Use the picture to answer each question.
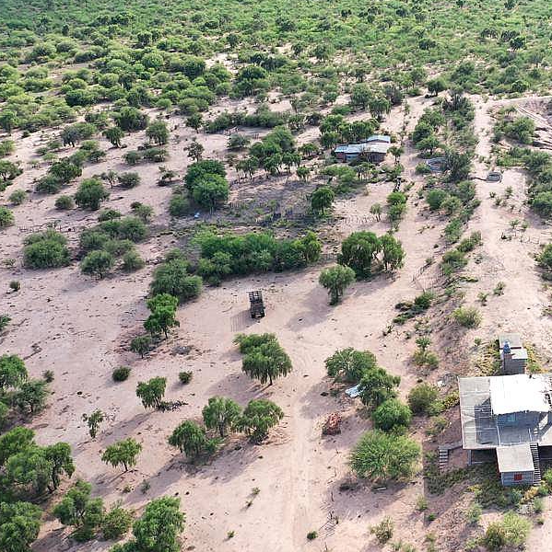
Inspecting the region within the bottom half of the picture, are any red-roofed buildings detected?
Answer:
No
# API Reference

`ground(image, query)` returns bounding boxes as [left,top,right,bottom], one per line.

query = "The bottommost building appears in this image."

[439,371,552,484]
